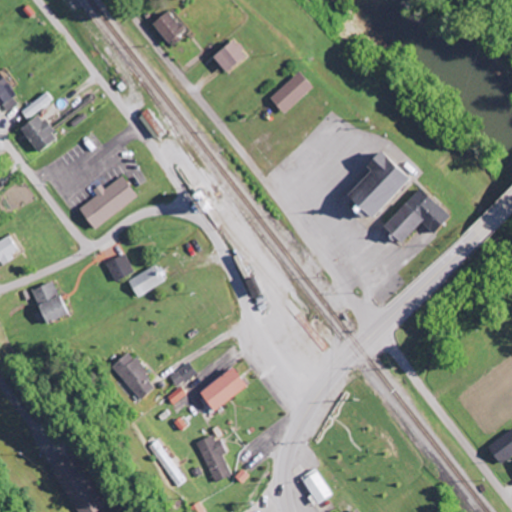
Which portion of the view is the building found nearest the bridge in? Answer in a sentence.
The building found nearest the bridge is located in the right region of the scene.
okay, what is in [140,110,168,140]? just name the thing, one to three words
shed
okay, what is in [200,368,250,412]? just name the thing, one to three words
building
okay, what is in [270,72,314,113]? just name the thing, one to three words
house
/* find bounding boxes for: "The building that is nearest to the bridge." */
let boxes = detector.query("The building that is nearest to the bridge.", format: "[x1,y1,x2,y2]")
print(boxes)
[384,189,449,243]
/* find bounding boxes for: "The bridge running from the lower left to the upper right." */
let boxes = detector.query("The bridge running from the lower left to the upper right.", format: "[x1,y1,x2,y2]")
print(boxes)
[460,186,512,251]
